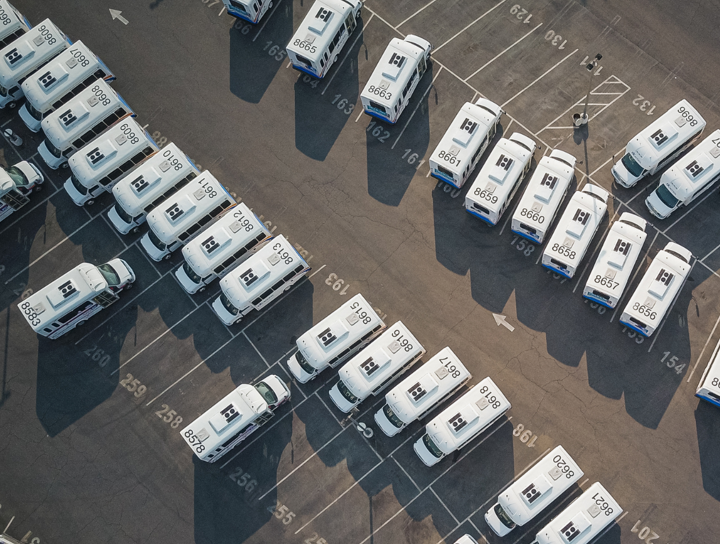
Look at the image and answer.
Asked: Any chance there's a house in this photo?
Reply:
No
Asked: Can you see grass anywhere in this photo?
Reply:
No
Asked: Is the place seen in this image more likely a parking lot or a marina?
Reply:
parking lot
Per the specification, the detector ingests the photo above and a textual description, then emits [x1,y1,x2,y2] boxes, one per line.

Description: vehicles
[136,171,237,263]
[618,243,698,340]
[370,348,473,438]
[180,376,291,468]
[0,0,33,50]
[283,294,387,385]
[102,144,202,235]
[481,447,583,539]
[609,99,706,190]
[223,0,273,26]
[520,483,622,544]
[325,323,427,414]
[32,80,136,171]
[540,185,618,281]
[362,34,438,126]
[0,162,45,220]
[509,149,587,245]
[465,132,544,227]
[694,341,720,409]
[579,214,657,311]
[12,41,115,133]
[288,0,366,82]
[411,378,513,469]
[644,130,720,220]
[170,204,274,294]
[207,235,310,327]
[429,98,508,192]
[17,259,134,344]
[0,20,73,109]
[59,117,160,207]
